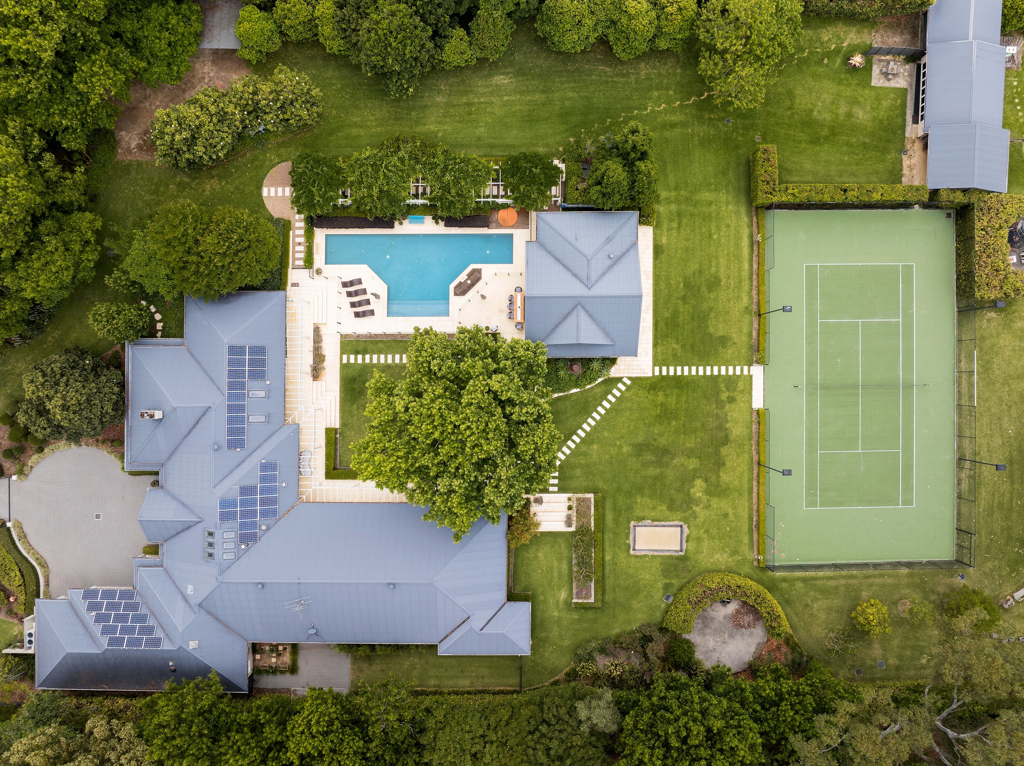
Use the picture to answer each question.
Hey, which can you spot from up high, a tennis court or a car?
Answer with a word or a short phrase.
tennis court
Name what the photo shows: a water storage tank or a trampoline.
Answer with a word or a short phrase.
trampoline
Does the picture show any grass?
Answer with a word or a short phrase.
Yes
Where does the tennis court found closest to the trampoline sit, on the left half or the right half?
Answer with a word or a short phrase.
right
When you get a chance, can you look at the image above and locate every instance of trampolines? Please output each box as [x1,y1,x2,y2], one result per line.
[632,523,685,554]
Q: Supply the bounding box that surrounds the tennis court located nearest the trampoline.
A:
[765,209,957,566]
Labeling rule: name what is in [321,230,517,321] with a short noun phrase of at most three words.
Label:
swimming pool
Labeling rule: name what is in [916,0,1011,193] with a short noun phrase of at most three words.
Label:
building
